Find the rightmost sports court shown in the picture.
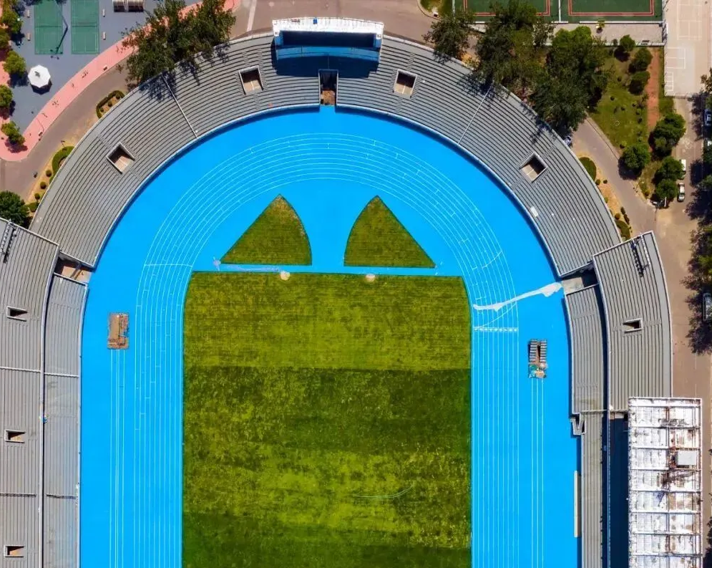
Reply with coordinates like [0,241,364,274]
[665,0,712,96]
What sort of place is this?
sports ground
